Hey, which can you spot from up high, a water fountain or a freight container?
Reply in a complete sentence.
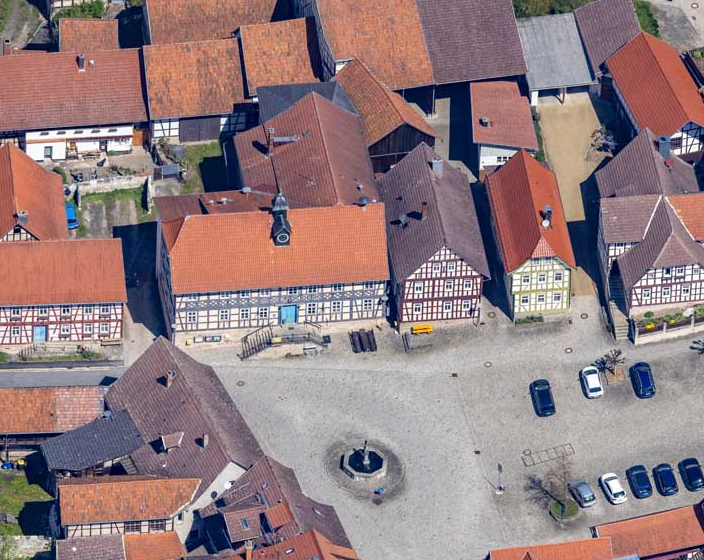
The one in the frame is a water fountain.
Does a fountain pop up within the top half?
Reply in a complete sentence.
No, there is no fountain within the top half.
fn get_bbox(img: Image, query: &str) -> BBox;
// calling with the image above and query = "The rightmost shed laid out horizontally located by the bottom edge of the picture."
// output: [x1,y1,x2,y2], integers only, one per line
[586,502,704,560]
